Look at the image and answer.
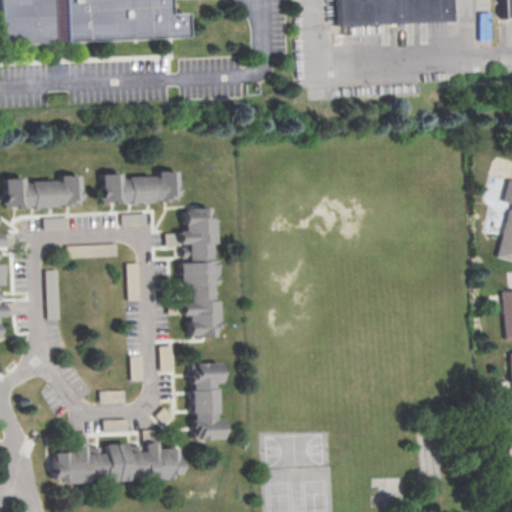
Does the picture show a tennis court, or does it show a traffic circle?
tennis court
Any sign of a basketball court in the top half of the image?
No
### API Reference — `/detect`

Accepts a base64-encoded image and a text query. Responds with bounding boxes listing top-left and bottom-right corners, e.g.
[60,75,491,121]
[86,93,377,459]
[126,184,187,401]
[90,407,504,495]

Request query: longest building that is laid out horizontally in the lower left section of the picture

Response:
[56,442,189,484]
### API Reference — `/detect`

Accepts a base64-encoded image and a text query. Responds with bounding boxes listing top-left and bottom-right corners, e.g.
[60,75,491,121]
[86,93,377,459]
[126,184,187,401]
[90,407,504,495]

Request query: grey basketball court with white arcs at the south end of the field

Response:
[259,432,329,468]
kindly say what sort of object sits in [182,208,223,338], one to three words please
building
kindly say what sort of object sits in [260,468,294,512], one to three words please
tennis court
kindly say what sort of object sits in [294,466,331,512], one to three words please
tennis court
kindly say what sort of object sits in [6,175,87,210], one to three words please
building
